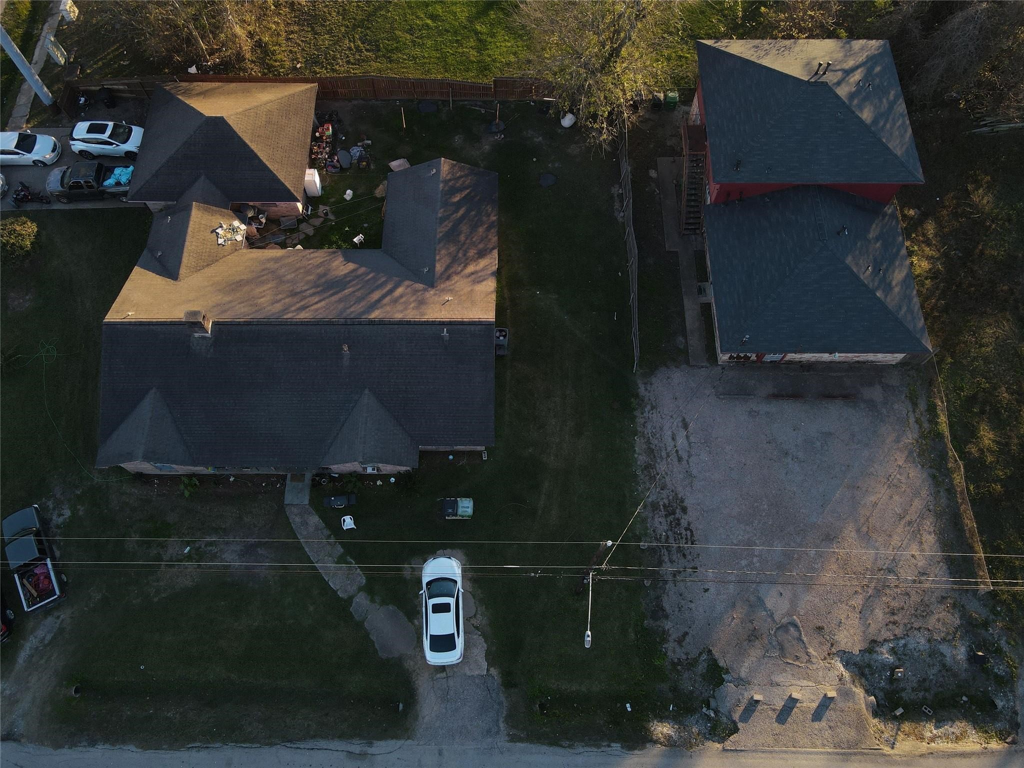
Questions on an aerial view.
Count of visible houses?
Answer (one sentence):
There are 2 houses in the image.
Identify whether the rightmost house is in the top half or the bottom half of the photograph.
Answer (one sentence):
The top half of the photo is where the rightmost house is.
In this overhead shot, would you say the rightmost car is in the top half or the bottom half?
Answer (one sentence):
You can find the rightmost car in the bottom half.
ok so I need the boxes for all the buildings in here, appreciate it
[95,158,498,479]
[687,39,935,379]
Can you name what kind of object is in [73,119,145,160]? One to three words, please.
car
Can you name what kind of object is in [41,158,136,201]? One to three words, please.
truck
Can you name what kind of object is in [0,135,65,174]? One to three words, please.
car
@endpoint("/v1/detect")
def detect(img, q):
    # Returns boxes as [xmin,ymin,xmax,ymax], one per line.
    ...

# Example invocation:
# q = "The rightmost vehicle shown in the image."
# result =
[418,554,465,669]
